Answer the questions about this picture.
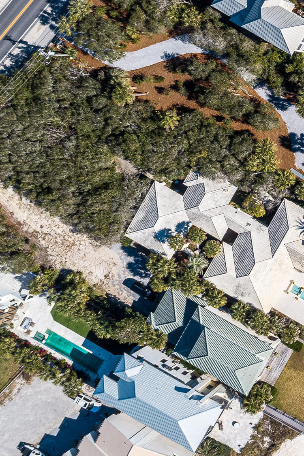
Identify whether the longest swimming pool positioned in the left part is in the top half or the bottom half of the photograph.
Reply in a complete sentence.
The bottom half of the photo is where the longest swimming pool positioned in the left part is.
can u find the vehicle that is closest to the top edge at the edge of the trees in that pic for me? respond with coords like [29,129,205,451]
[125,281,156,304]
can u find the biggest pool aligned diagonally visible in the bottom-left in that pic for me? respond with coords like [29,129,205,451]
[42,328,107,375]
